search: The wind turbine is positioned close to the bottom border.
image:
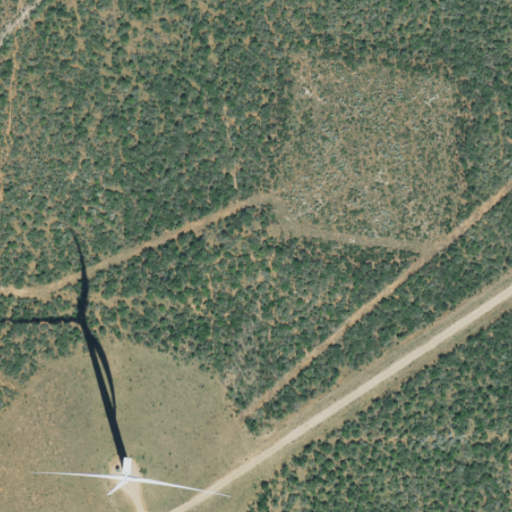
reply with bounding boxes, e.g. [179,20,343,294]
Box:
[40,457,228,494]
